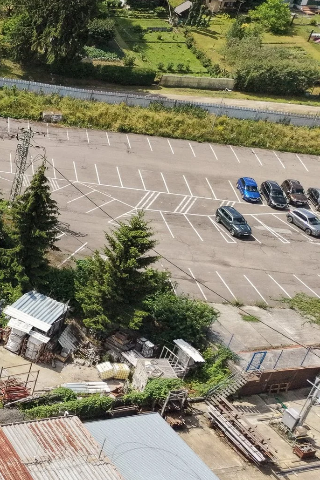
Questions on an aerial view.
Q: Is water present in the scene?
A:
No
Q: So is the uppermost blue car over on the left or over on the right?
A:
right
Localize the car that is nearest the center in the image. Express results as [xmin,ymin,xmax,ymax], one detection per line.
[220,201,256,233]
